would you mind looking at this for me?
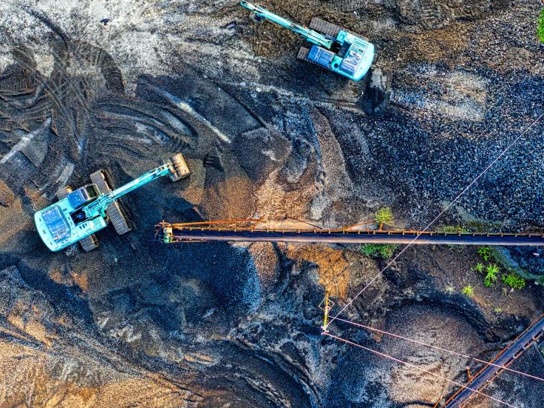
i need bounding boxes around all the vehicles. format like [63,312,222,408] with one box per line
[40,153,201,254]
[252,0,380,82]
